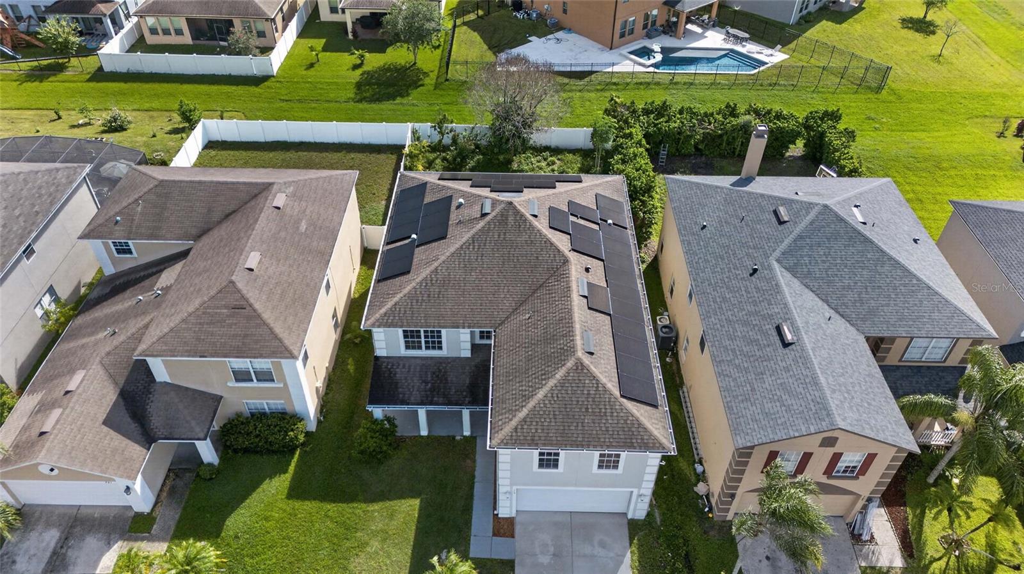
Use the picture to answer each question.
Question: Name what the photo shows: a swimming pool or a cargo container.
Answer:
swimming pool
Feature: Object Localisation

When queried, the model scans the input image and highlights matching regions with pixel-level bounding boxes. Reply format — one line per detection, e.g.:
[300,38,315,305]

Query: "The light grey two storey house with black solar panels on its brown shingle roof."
[360,170,679,520]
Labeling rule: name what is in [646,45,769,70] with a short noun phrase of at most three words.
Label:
swimming pool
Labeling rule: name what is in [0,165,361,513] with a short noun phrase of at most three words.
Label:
house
